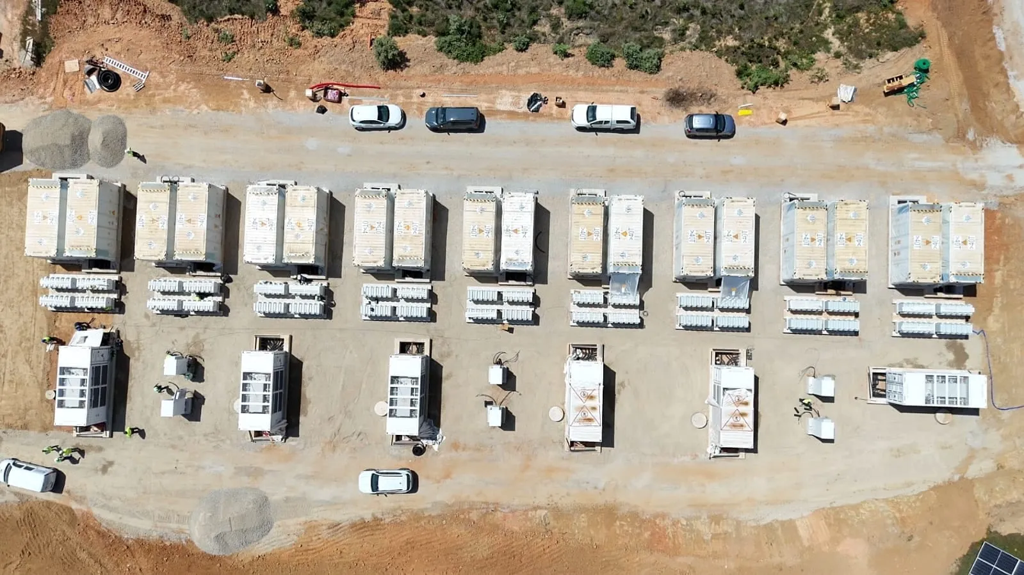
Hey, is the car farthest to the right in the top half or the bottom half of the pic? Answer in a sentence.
The top half of the photo is where the car farthest to the right is.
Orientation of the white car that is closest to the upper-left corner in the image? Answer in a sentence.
The white car that is closest to the upper-left corner is laid out from left to right.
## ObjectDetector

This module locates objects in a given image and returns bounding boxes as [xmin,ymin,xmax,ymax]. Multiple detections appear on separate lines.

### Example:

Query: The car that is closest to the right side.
[683,110,734,139]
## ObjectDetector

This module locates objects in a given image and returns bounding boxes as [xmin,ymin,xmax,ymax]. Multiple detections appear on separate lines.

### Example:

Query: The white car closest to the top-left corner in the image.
[350,102,404,130]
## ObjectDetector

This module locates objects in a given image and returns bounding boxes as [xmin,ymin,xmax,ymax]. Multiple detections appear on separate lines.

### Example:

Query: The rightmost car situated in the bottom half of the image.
[360,467,413,496]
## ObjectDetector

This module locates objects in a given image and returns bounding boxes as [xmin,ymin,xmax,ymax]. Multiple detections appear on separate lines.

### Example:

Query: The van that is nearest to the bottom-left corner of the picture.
[0,458,61,494]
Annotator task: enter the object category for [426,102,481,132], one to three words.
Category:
car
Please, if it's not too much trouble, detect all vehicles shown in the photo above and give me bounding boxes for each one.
[683,110,734,139]
[360,467,413,496]
[350,102,404,130]
[426,102,481,132]
[571,100,637,132]
[0,458,61,494]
